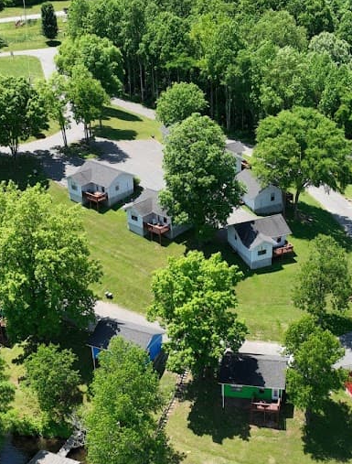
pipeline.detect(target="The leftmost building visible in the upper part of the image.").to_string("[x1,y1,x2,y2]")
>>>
[63,160,136,208]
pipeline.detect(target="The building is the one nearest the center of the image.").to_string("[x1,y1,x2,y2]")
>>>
[118,188,194,244]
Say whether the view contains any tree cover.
Yes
